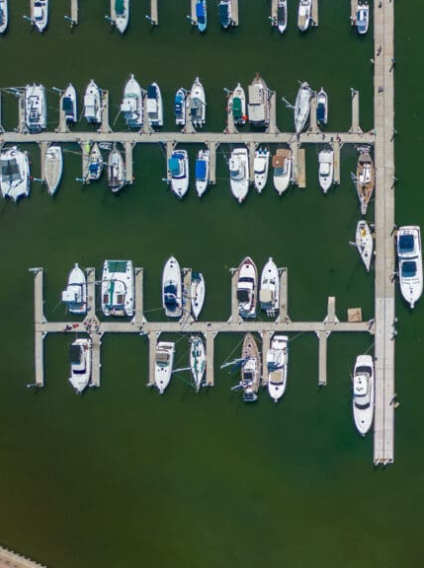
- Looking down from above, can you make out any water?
Yes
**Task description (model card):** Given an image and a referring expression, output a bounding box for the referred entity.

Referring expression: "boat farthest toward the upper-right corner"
[357,1,369,34]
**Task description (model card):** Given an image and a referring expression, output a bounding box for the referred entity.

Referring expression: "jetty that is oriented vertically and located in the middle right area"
[373,0,394,465]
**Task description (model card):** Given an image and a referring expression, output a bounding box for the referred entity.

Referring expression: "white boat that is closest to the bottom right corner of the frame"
[353,348,376,436]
